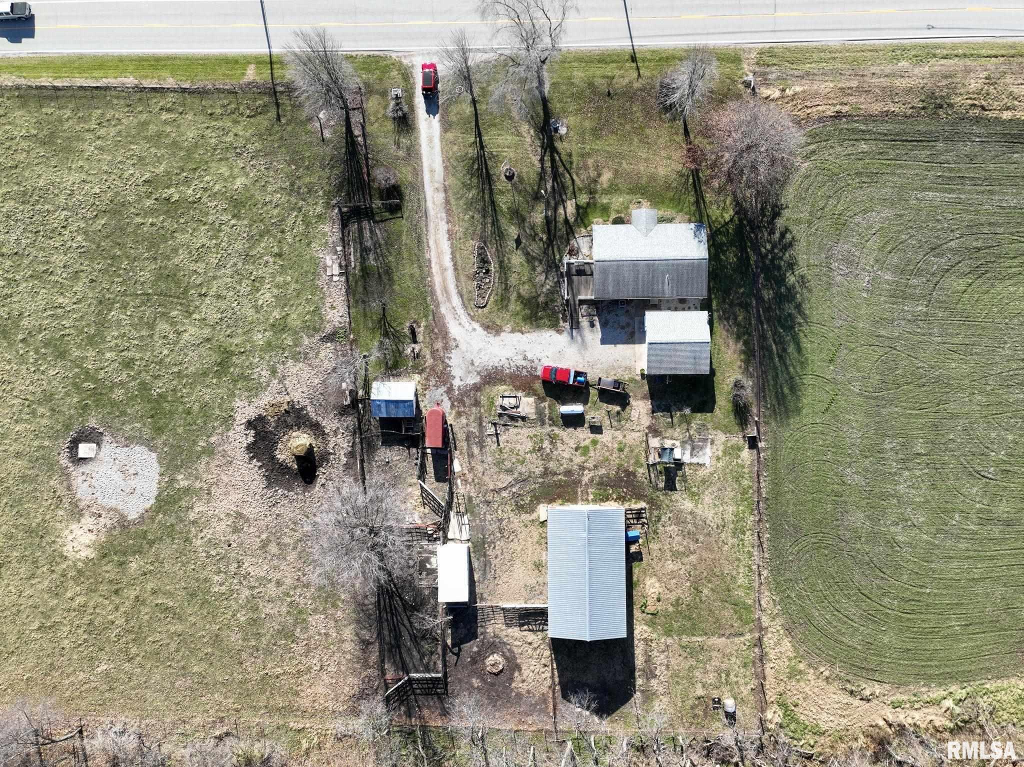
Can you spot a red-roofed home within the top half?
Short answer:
No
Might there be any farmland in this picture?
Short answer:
Yes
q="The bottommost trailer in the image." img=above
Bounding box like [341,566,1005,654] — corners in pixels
[426,400,447,447]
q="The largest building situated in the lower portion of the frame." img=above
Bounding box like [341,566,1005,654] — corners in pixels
[546,506,627,642]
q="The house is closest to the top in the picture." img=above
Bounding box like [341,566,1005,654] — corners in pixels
[592,206,712,300]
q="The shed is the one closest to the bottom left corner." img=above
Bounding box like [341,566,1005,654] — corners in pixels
[438,542,471,604]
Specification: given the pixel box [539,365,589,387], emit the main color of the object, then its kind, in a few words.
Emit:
red truck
